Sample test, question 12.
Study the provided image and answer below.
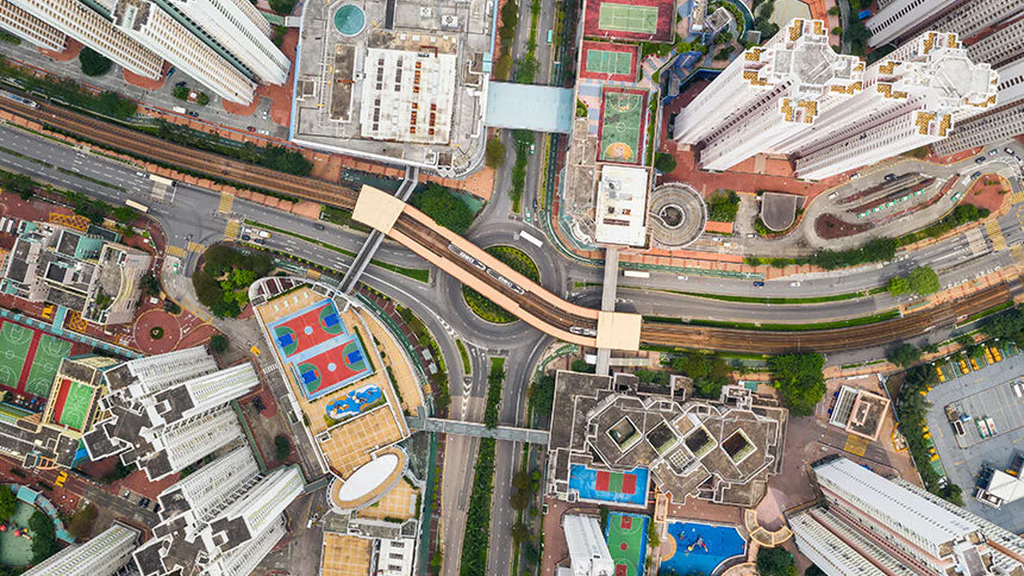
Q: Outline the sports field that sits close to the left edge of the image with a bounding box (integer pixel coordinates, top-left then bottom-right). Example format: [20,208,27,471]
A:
[0,318,75,401]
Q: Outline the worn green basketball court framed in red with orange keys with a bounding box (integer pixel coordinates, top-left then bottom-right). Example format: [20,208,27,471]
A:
[597,86,650,165]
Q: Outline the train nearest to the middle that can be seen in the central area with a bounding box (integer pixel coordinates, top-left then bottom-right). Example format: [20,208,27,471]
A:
[486,268,526,295]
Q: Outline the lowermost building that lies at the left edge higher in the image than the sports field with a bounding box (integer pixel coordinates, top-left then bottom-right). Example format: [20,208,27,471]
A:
[0,221,163,324]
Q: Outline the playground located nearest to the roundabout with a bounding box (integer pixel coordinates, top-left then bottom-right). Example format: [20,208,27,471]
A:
[326,384,382,419]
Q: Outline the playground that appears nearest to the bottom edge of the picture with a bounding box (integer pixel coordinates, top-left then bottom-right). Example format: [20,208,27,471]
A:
[0,499,36,568]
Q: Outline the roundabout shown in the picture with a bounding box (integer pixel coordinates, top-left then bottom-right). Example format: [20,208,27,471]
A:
[432,218,571,353]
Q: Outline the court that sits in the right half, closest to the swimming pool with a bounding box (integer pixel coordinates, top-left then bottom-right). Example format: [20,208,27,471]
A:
[607,512,650,576]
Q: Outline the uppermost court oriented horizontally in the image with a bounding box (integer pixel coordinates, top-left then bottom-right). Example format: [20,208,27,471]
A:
[584,0,677,42]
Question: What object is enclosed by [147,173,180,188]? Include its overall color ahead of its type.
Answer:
white vehicle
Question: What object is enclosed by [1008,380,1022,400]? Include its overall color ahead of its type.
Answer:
white vehicle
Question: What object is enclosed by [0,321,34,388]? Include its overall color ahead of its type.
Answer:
green basketball court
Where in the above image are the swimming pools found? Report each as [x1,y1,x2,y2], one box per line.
[654,520,750,576]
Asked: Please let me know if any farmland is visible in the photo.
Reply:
No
